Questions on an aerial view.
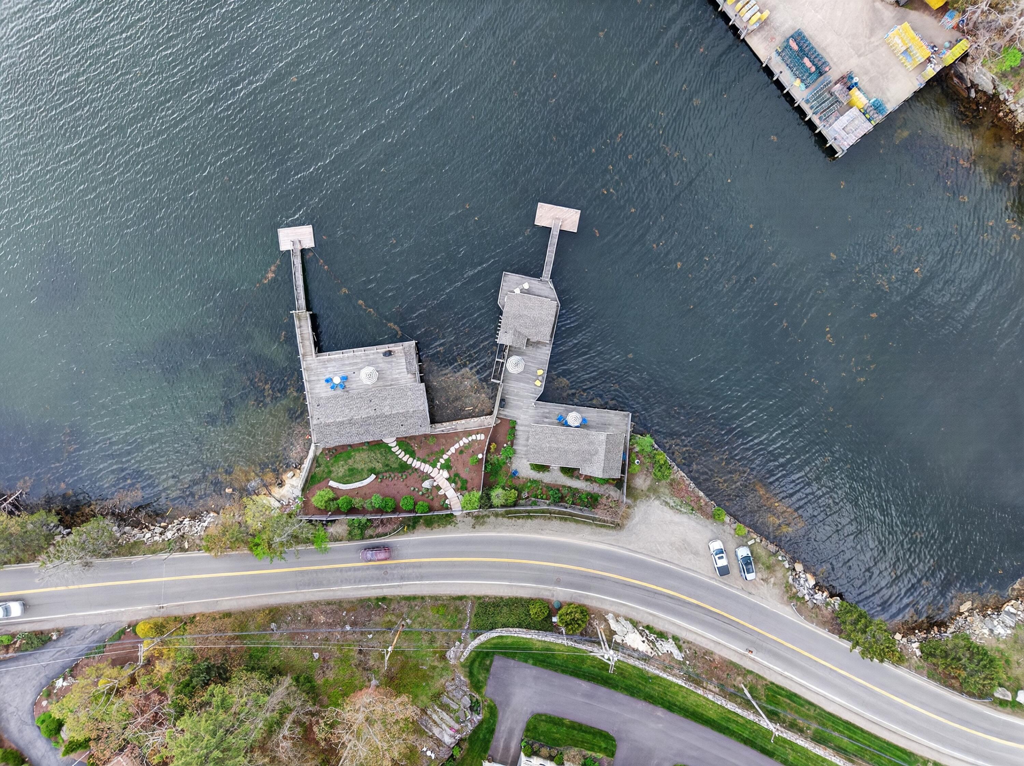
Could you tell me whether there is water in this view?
Yes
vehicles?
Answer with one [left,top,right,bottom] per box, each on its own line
[709,540,732,579]
[0,602,22,619]
[737,546,760,584]
[360,546,392,564]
